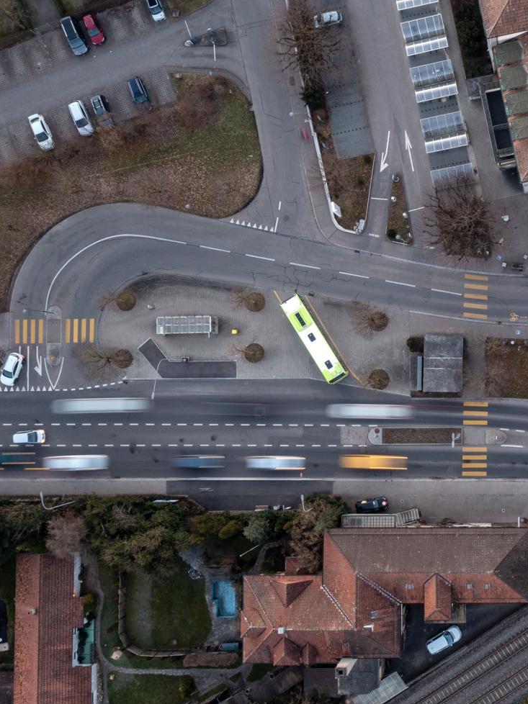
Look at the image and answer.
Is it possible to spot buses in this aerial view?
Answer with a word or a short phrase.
Yes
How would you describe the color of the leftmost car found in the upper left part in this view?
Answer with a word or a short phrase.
white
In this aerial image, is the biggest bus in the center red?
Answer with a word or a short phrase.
No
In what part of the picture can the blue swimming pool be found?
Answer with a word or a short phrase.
bottom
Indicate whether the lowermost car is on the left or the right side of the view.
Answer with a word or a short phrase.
right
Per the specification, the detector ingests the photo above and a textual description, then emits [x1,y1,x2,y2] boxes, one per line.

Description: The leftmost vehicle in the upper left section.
[28,113,56,151]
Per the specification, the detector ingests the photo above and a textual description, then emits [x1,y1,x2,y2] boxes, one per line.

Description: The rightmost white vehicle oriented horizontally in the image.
[349,402,394,420]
